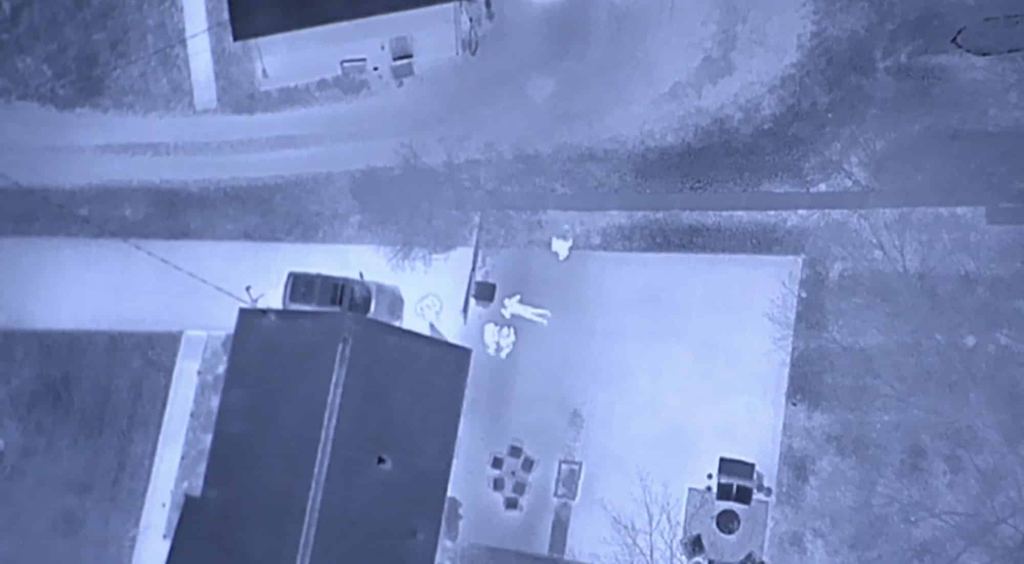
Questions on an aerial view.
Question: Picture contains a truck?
No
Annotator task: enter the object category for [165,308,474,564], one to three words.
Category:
house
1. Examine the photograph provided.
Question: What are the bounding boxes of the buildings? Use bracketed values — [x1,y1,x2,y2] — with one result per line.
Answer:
[226,0,473,46]
[165,308,474,564]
